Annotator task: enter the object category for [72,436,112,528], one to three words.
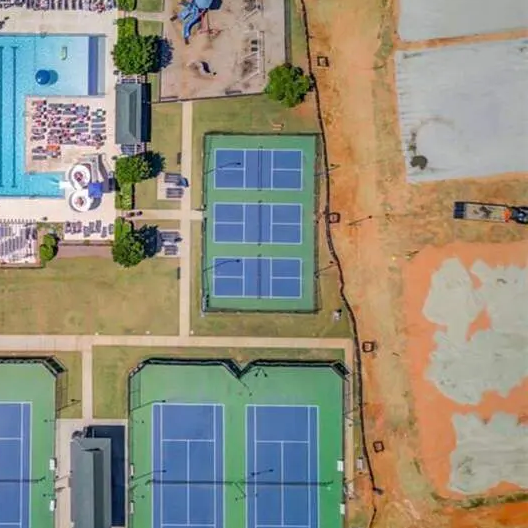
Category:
building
